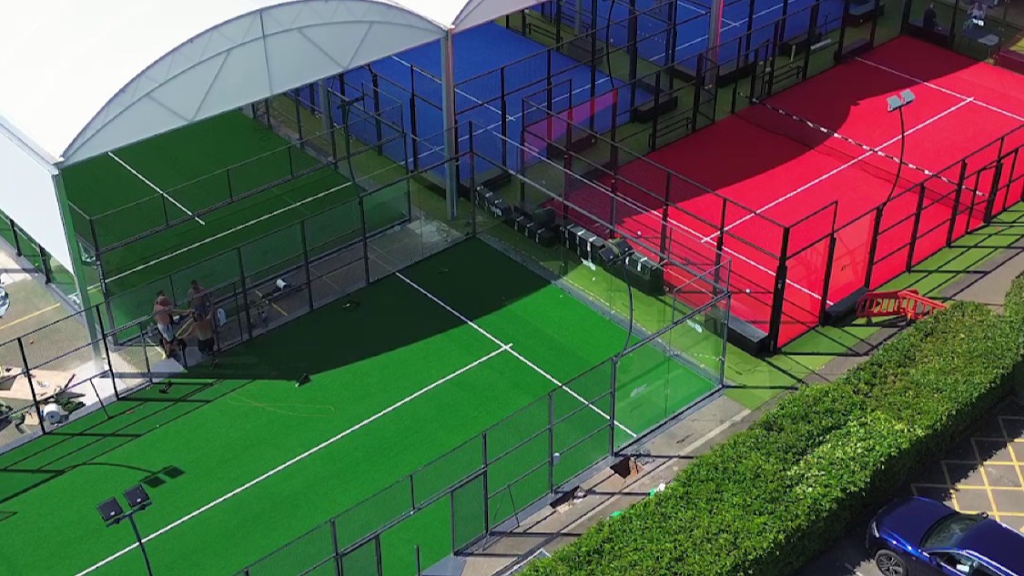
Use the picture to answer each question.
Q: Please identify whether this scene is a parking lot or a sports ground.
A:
sports ground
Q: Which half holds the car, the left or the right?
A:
right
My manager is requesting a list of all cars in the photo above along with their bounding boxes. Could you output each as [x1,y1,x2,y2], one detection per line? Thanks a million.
[868,495,1024,576]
